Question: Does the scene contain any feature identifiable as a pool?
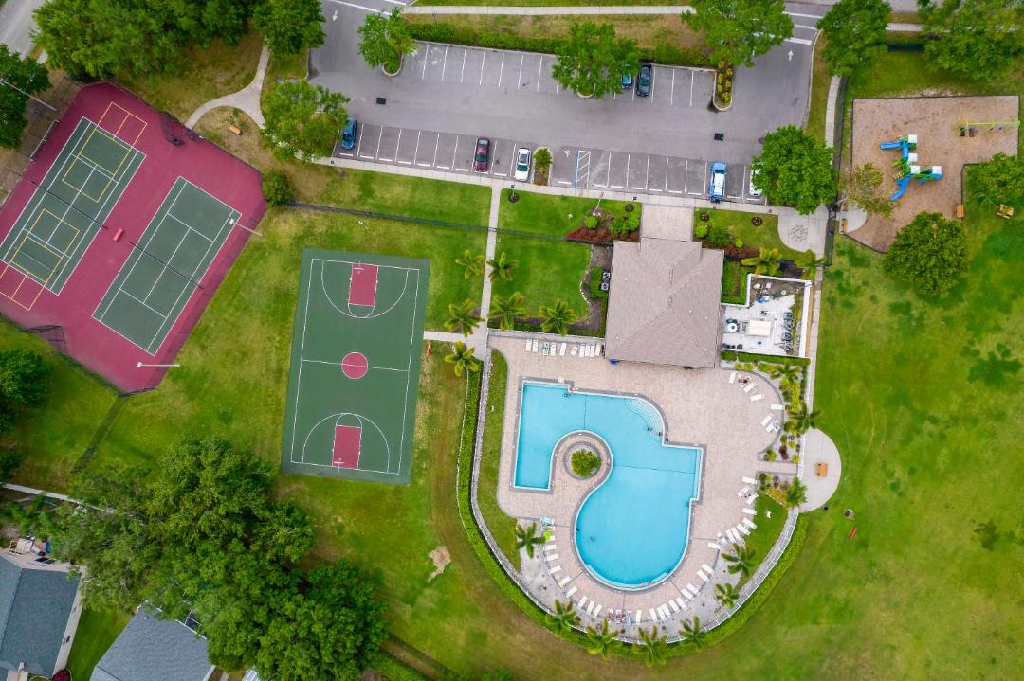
Yes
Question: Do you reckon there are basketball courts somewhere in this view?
Yes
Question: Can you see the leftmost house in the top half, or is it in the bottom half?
bottom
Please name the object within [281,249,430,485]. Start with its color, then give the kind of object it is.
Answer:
green basketball court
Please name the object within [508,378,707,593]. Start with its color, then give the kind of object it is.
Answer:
blue swimming pool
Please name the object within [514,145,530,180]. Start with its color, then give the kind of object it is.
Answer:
white car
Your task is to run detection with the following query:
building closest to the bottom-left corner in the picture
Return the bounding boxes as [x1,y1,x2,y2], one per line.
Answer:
[0,545,91,681]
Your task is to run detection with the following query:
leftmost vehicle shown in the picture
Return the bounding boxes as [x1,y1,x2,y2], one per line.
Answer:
[340,115,357,148]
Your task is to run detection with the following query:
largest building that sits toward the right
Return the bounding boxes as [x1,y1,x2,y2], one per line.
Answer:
[605,237,724,367]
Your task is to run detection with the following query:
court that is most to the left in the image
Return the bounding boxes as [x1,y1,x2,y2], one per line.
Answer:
[0,101,147,310]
